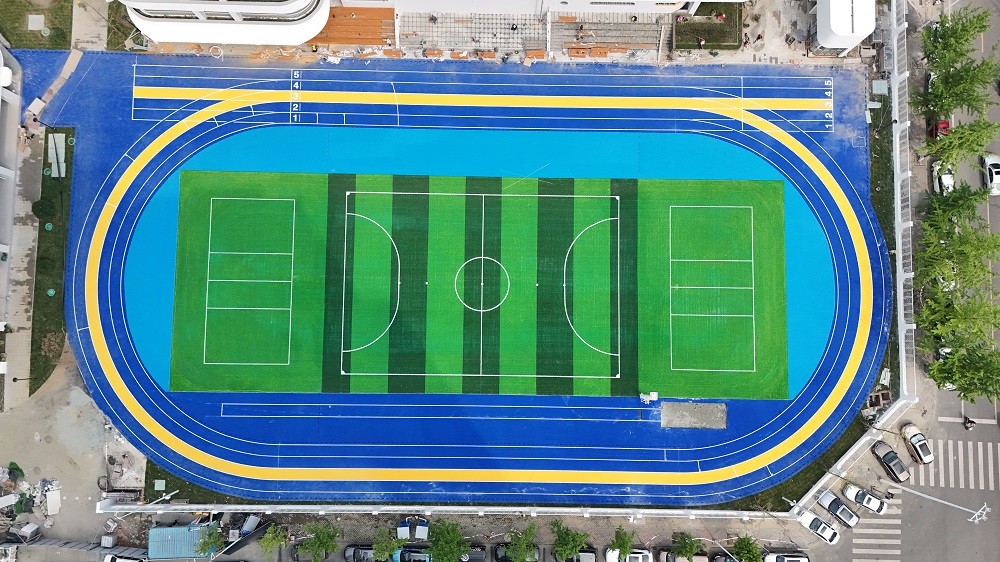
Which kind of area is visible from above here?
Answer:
sports ground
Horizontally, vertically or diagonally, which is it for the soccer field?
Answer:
horizontally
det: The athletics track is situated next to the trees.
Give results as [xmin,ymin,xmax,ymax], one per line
[17,49,891,504]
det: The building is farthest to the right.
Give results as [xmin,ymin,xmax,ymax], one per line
[810,0,877,60]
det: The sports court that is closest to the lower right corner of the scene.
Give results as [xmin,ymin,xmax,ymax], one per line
[637,178,789,399]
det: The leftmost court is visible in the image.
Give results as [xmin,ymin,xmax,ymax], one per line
[169,171,329,394]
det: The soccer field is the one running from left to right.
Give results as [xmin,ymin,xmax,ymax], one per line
[170,163,789,400]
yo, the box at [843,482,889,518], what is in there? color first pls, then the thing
white car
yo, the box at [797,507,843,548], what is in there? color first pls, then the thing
white car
